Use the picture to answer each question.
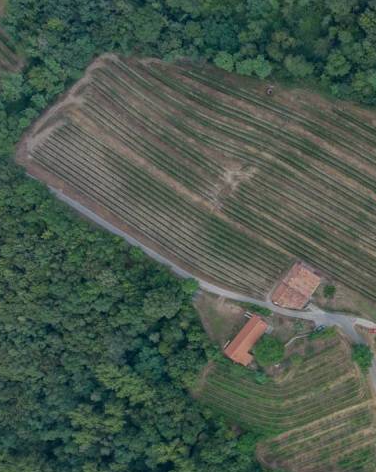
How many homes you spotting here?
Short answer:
2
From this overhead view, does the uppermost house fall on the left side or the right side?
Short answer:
right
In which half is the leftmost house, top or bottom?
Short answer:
bottom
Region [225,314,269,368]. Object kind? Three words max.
house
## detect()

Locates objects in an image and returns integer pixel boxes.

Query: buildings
[225,314,269,368]
[276,260,320,311]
